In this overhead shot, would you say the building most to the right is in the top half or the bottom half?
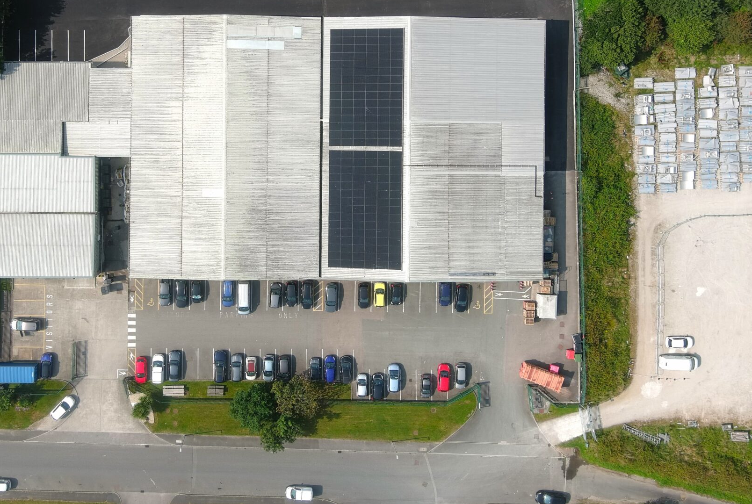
top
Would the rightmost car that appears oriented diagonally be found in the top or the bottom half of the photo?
bottom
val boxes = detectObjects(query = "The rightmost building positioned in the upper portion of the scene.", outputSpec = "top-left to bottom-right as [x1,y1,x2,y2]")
[319,15,547,283]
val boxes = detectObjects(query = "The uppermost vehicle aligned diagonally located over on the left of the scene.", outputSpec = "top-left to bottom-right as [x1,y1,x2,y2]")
[49,394,76,423]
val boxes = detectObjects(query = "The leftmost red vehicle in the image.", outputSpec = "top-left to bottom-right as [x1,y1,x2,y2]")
[133,357,147,384]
